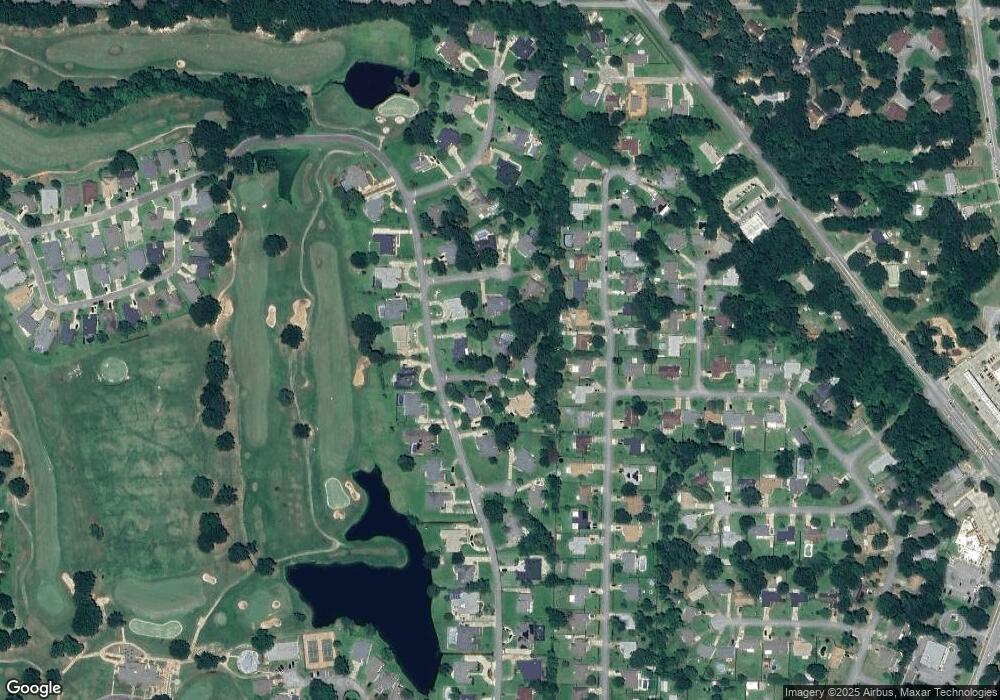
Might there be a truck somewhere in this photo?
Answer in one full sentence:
No, the photo shows no truck.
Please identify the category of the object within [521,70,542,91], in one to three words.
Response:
house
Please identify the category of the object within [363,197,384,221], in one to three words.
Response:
house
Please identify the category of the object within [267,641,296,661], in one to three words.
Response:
building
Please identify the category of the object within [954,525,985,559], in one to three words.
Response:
building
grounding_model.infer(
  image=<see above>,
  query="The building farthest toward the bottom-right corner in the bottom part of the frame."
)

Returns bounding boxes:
[919,640,948,672]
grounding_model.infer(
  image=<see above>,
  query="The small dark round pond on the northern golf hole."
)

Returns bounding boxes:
[345,62,404,109]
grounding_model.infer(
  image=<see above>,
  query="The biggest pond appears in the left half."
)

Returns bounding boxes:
[286,463,441,694]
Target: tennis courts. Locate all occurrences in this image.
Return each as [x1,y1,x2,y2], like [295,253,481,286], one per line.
[307,638,319,664]
[320,638,333,662]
